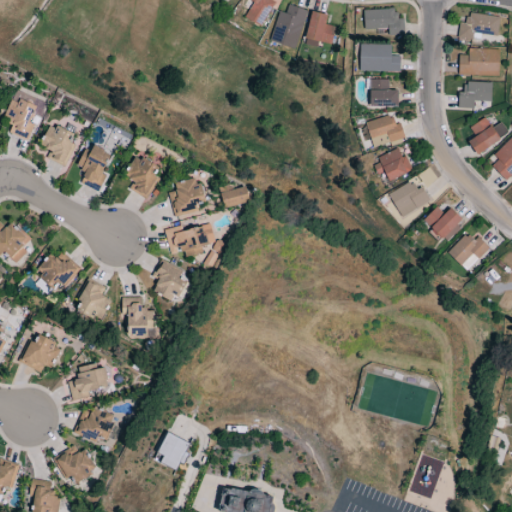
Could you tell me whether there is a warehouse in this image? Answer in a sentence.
No, there is no warehouse in the image.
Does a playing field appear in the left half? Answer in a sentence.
No, no playing field appears in the left half.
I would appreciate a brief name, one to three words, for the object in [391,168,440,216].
house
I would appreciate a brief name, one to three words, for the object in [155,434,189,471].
shed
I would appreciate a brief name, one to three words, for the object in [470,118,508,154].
house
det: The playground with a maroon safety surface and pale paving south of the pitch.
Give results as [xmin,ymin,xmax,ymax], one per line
[405,451,455,512]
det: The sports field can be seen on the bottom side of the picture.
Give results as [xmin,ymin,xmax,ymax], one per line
[354,362,440,428]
